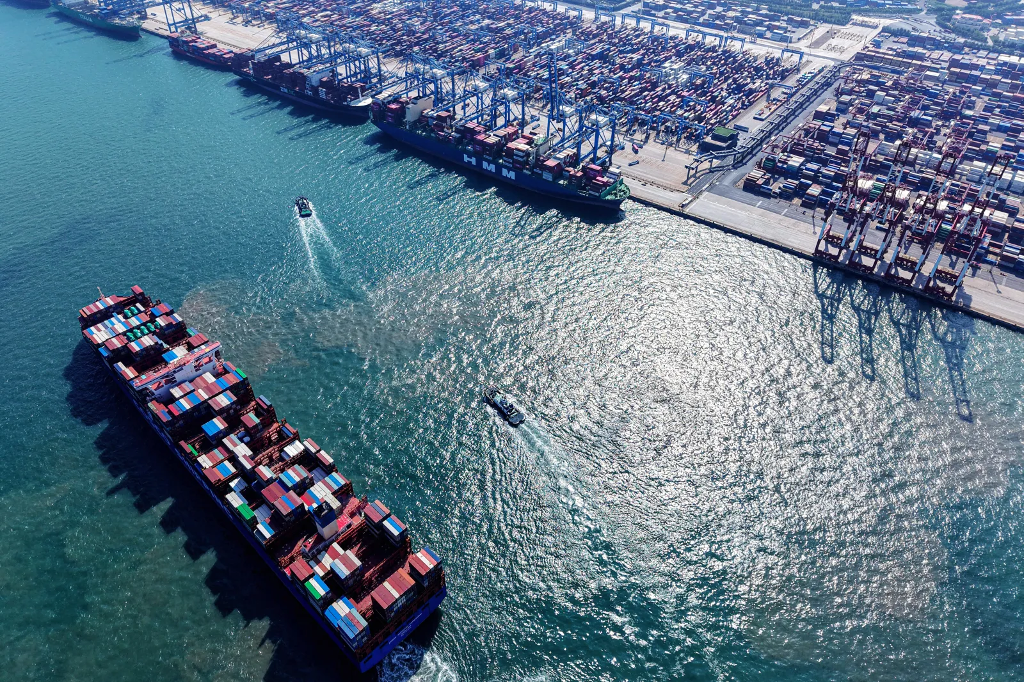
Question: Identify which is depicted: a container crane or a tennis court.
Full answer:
Of the two, only a container crane appears.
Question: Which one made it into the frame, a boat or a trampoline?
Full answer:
This aerial view contains a boat.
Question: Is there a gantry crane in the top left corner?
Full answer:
Yes, a gantry crane shows up in the top left corner.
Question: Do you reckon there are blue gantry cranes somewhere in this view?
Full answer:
Yes, a blue gantry crane is visible in the scene.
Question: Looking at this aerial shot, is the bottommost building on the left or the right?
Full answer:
The bottommost building appears in the right half of the scene.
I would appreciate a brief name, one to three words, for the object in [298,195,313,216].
boat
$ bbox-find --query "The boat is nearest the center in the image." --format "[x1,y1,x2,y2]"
[489,388,528,422]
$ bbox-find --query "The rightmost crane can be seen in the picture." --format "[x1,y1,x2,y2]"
[922,174,1002,300]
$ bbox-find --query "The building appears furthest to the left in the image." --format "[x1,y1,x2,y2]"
[702,124,737,151]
